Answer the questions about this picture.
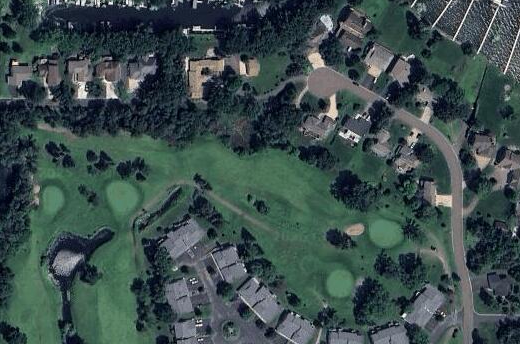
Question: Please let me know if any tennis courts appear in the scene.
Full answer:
No, this view has no tennis court in it.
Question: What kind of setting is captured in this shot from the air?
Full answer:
This image shows a golf course.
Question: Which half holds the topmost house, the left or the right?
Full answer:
The topmost house appears in the right half of the scene.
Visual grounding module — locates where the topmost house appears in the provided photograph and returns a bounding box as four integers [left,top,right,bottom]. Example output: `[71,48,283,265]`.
[339,6,371,49]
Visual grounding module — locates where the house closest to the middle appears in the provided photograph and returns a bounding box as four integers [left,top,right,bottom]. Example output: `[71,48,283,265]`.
[300,111,336,139]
